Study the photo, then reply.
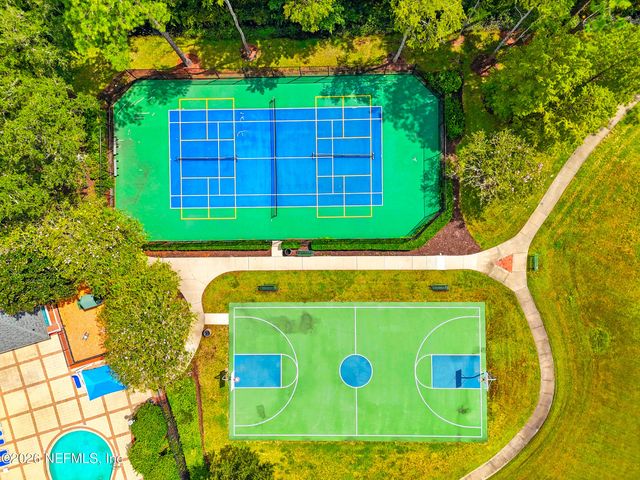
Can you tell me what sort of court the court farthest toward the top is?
tennis court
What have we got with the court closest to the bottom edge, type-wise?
basketball court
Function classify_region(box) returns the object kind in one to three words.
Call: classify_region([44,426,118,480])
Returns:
swimming pool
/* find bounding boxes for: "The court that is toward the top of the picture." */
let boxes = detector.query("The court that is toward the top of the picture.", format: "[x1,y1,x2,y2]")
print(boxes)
[114,76,439,241]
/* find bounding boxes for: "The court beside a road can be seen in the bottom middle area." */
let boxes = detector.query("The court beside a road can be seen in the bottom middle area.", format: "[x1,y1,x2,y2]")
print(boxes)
[229,302,487,441]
